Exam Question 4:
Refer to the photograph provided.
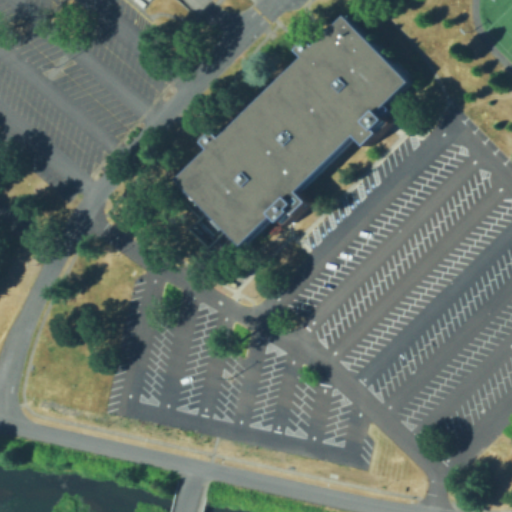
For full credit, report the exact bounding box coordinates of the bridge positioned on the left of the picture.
[172,474,211,512]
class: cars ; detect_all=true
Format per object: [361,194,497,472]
[324,263,338,272]
[358,232,373,240]
[338,252,353,260]
[325,282,338,290]
[180,377,194,386]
